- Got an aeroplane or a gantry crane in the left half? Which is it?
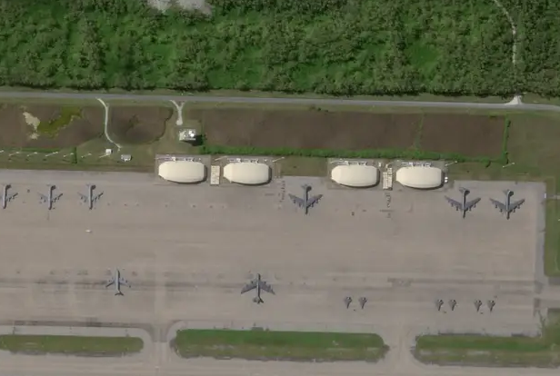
aeroplane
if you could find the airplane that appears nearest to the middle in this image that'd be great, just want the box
[289,183,324,213]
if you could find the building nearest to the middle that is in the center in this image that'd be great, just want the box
[224,163,269,185]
